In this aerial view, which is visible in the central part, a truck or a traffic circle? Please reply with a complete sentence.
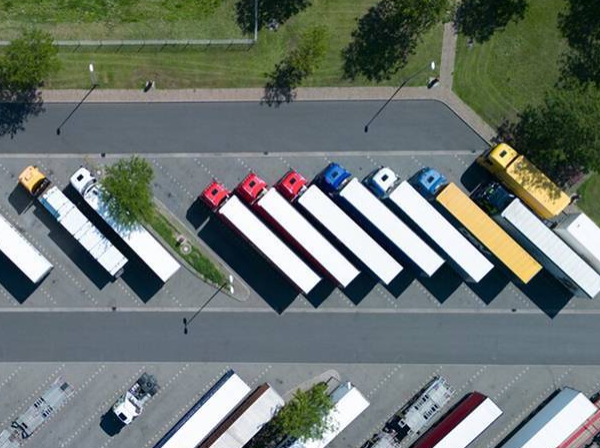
What appears in the central part is a truck.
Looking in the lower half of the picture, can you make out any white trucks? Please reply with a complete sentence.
Yes, I can see a white truck in the lower half of the picture.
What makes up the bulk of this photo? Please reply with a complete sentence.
The largest share of the image is taken up by paved ground.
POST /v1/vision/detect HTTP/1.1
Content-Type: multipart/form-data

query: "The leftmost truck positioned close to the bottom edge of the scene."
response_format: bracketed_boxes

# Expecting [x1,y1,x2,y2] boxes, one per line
[109,376,157,427]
